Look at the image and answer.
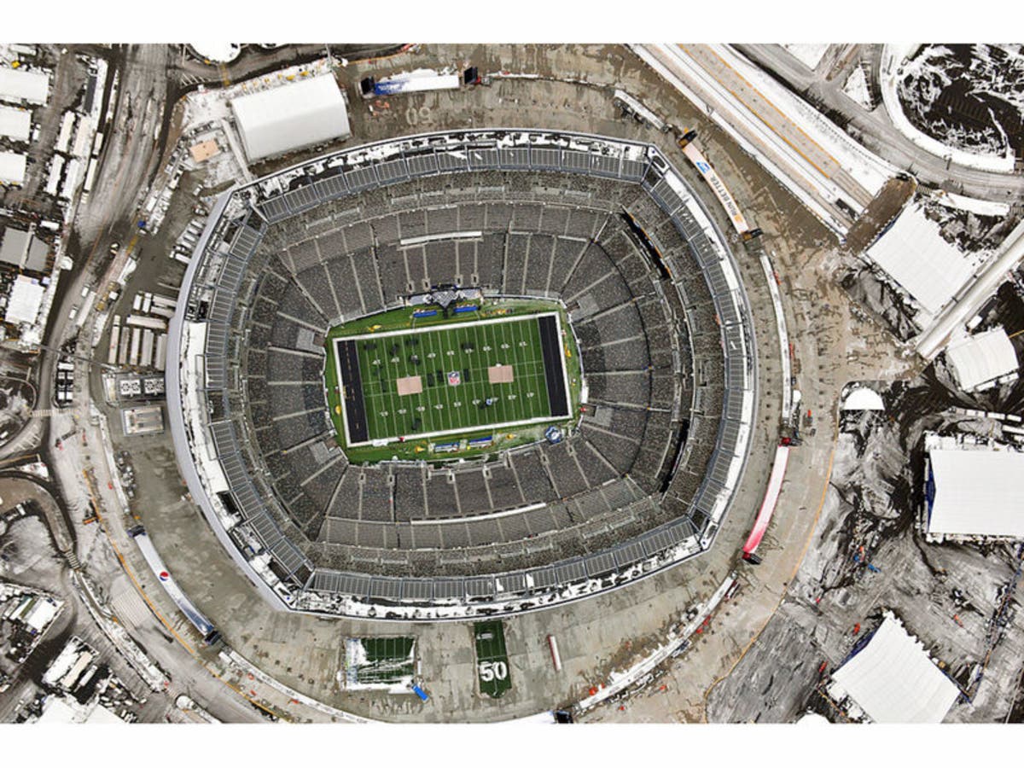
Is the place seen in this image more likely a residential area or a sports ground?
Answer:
sports ground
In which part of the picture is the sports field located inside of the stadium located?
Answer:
center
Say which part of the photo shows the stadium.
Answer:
center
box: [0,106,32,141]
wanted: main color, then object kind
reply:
white tent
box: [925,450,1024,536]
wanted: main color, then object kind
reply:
white tent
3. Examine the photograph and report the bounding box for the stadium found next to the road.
[166,129,756,620]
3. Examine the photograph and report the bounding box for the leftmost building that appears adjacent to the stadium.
[121,407,163,436]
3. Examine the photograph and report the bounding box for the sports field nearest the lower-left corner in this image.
[345,638,421,693]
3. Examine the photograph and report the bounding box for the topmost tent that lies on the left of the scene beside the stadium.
[232,72,351,160]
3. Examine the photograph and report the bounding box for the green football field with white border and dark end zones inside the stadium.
[324,291,583,465]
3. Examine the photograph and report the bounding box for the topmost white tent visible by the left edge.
[0,69,49,104]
